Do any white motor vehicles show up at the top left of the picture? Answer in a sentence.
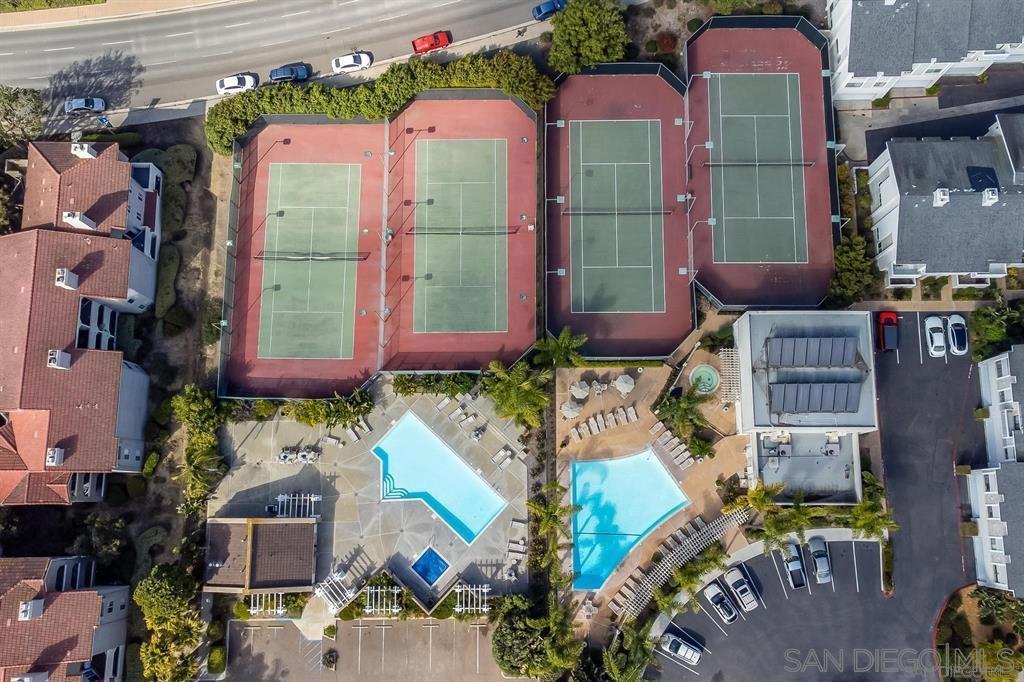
Yes, a white motor vehicle appears at the top left of the picture.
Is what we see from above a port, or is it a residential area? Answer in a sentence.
What you see here is a residential area.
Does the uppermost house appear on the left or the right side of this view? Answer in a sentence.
The uppermost house sits on the right side.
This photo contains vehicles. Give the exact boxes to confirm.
[725,567,759,612]
[64,96,107,115]
[660,631,702,669]
[269,62,310,85]
[215,72,258,94]
[410,30,452,55]
[331,52,372,75]
[945,315,968,356]
[529,0,569,22]
[807,538,832,585]
[781,542,809,589]
[922,317,946,358]
[703,582,739,626]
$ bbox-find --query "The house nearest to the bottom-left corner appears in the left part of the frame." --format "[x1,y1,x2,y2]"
[0,553,131,682]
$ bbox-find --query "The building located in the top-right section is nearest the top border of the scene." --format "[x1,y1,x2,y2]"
[827,0,1024,103]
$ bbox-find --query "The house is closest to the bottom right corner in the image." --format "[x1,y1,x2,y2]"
[965,464,1024,599]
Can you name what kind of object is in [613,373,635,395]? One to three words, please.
umbrella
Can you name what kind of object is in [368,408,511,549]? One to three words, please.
swimming pool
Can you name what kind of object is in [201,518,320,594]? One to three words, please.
building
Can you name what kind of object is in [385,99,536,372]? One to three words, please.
tennis court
